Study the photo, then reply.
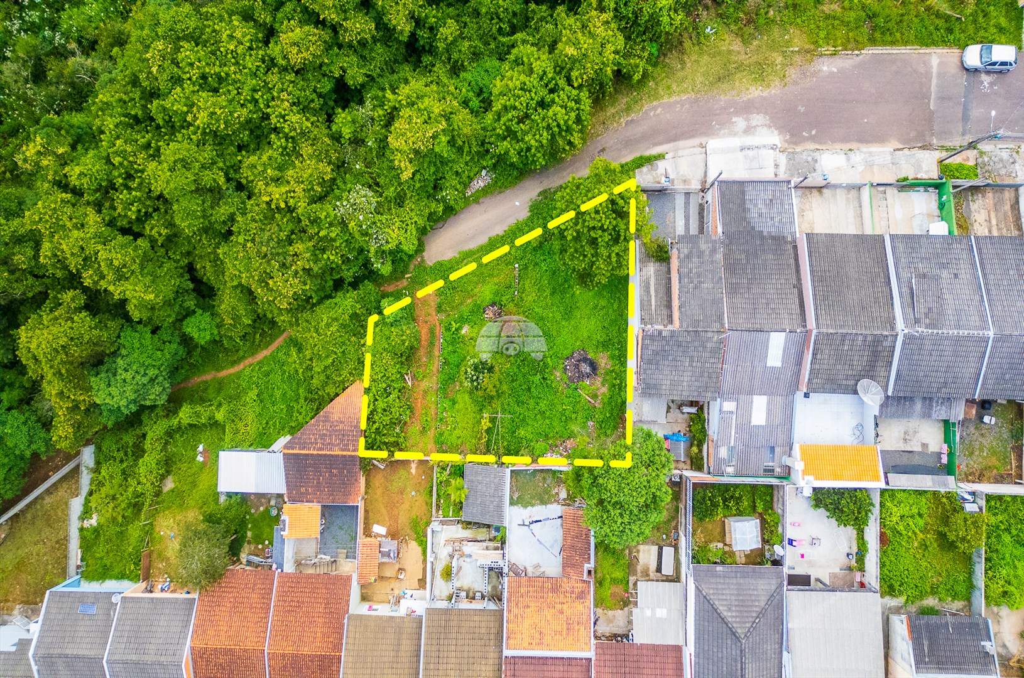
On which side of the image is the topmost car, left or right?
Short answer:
right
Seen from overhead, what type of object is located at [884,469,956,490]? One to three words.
shed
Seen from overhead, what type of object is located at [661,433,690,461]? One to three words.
shed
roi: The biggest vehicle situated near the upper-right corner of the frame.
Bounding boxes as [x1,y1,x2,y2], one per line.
[959,42,1020,71]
